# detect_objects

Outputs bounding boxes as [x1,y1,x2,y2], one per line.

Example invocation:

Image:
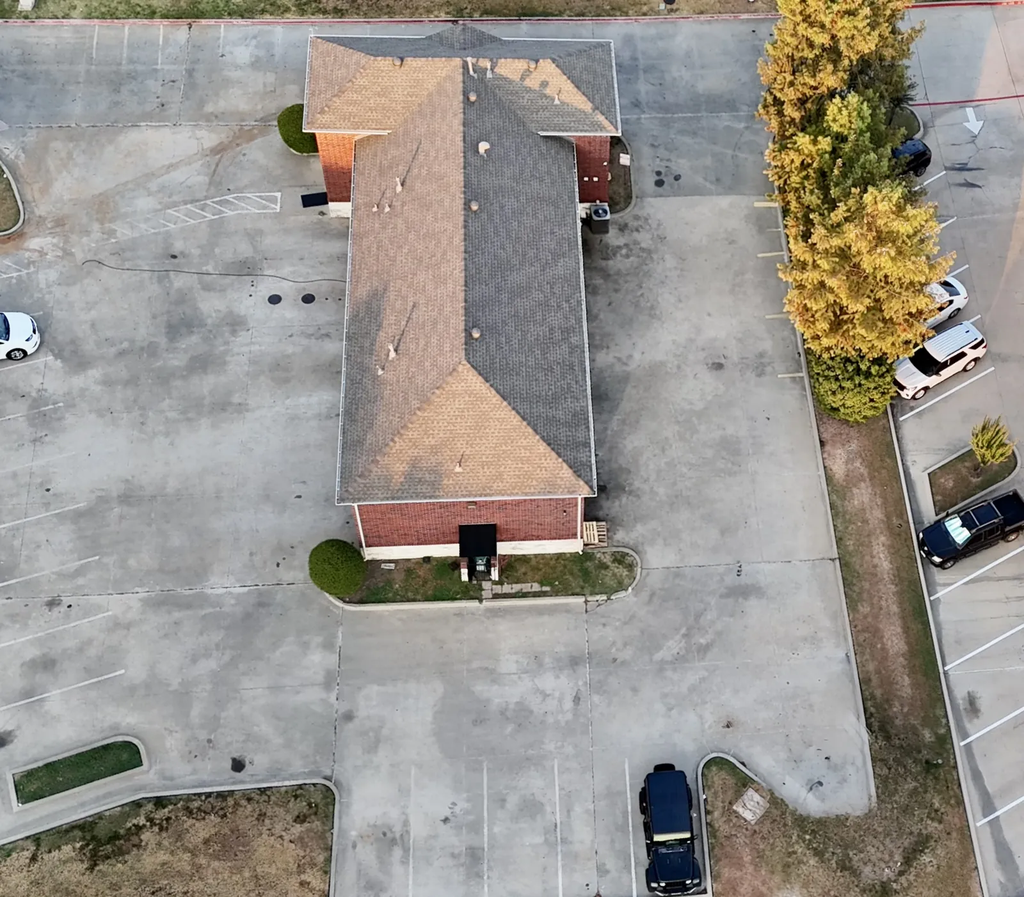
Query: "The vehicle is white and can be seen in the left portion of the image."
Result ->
[0,317,40,362]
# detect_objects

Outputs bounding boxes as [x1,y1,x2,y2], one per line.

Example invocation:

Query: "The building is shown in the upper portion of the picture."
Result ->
[303,21,621,579]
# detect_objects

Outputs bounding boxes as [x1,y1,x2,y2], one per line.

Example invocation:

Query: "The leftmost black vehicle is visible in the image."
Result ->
[639,760,699,892]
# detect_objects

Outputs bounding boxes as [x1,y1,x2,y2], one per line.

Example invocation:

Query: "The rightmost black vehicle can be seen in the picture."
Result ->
[912,486,1024,570]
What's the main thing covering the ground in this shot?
paved ground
